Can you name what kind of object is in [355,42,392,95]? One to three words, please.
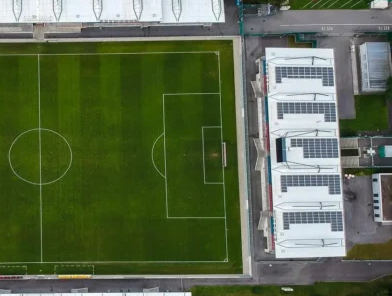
building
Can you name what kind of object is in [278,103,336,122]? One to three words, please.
solar array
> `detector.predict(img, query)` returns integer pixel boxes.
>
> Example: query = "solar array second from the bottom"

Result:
[281,175,340,194]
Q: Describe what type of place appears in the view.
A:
sports ground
